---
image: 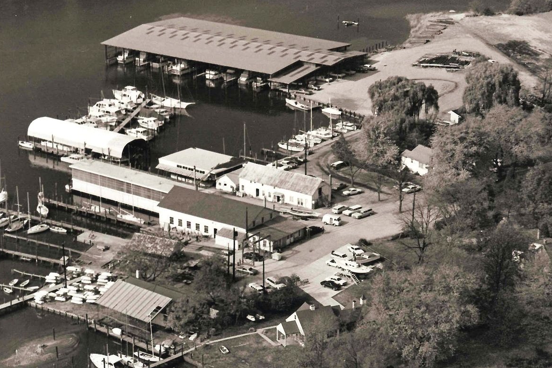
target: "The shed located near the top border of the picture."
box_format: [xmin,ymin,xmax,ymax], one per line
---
[102,17,375,98]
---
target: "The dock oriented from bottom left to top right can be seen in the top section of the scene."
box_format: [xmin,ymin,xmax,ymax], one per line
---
[115,96,154,128]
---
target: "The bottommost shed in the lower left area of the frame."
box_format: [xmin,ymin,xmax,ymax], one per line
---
[96,279,206,337]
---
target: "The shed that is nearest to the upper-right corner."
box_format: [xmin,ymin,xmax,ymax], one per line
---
[447,103,476,124]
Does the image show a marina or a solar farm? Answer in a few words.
marina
